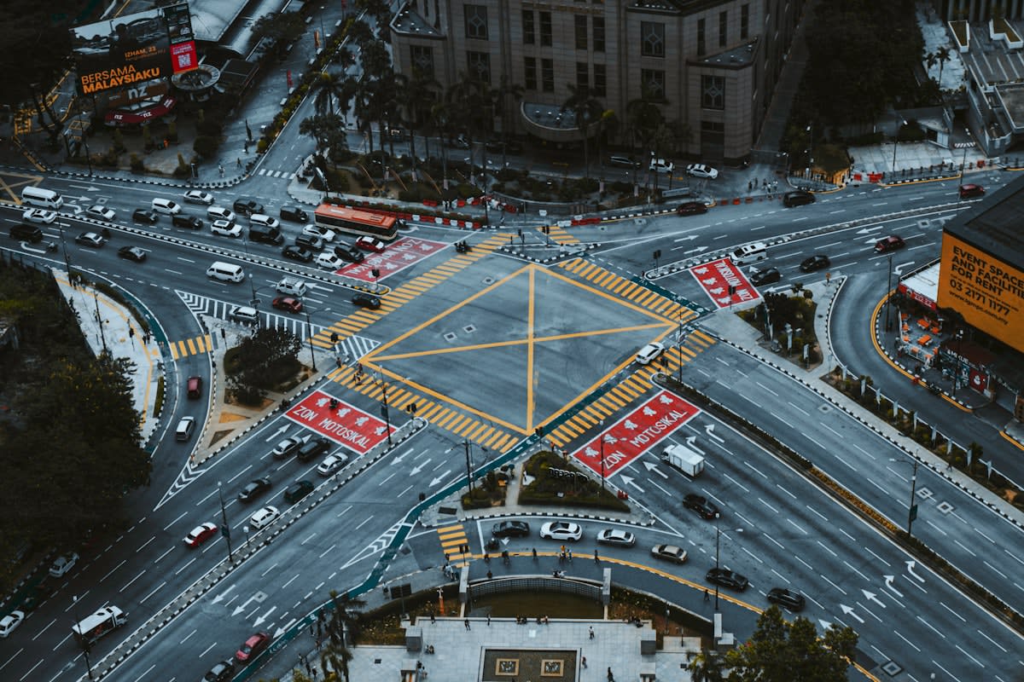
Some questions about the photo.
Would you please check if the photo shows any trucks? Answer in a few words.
Yes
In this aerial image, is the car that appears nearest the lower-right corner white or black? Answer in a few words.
black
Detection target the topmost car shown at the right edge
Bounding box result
[953,185,989,200]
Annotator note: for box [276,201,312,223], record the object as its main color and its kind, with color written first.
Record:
black vehicle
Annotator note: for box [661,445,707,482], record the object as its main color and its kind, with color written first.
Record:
white truck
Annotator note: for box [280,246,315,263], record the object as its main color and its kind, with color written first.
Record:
black car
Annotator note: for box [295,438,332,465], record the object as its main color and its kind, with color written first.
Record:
black car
